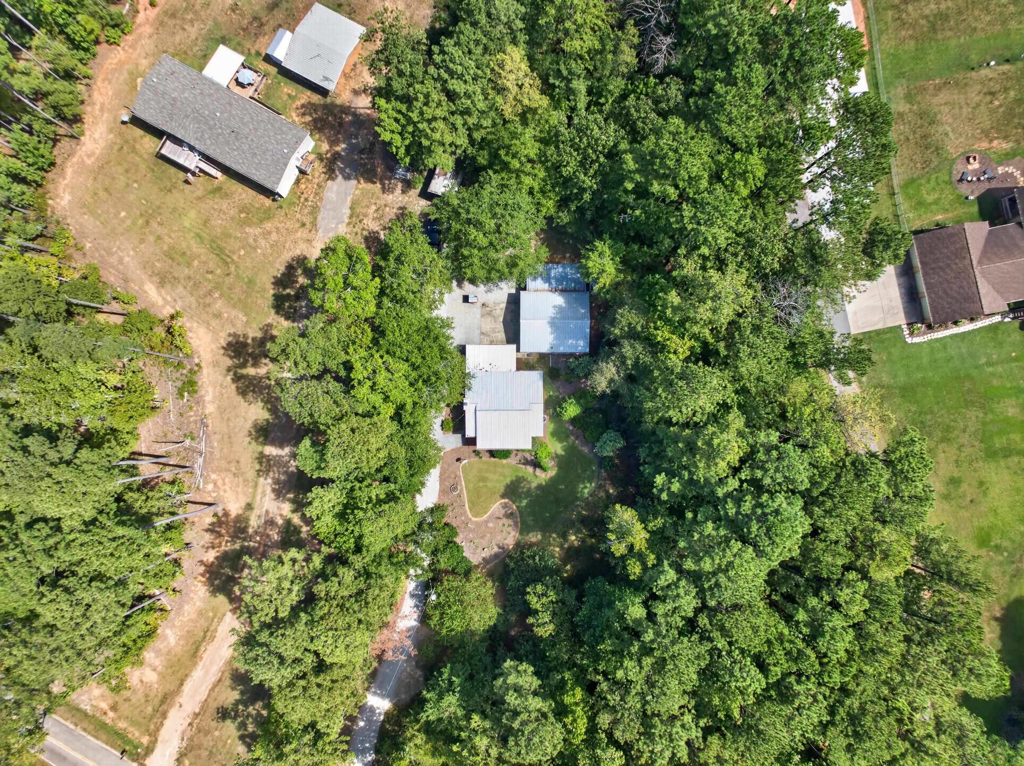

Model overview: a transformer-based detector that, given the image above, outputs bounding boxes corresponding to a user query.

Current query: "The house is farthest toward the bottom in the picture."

[461,370,544,451]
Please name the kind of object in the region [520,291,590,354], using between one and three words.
building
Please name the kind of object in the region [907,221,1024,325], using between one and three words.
house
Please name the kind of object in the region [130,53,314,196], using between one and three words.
house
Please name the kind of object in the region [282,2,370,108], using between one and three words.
barn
